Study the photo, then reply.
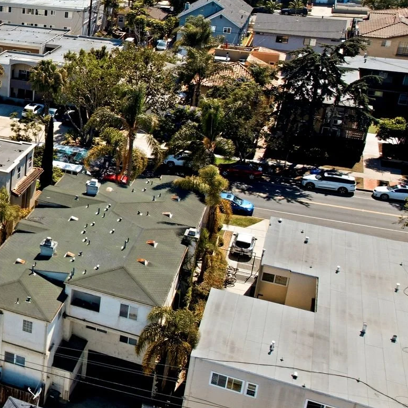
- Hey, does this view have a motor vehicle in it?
Yes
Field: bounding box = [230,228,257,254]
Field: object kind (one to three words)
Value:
car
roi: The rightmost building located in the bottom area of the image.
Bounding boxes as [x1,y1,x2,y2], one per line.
[184,216,408,408]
